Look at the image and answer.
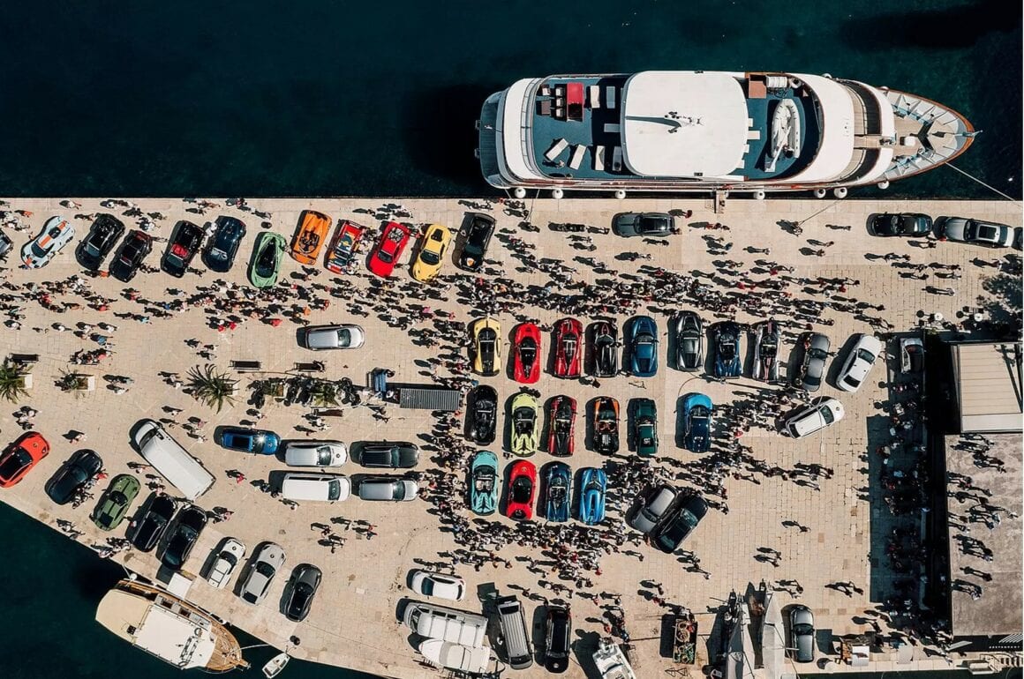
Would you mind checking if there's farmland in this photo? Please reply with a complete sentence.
No, there's no farmland in this view.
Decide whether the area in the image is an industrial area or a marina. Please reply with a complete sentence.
This image shows a marina.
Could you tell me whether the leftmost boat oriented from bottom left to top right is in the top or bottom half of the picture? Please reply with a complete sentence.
The bottom half of the photo is where the leftmost boat oriented from bottom left to top right is.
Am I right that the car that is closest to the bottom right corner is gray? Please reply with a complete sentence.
Yes, the car that is closest to the bottom right corner appears gray.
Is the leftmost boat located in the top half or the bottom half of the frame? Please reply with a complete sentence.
The leftmost boat is in the bottom half of the image.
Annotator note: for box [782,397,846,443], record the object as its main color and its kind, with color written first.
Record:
white car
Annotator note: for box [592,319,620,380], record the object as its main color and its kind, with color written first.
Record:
black car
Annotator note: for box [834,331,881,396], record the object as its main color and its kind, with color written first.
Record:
white car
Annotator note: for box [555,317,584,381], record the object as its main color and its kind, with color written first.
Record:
red car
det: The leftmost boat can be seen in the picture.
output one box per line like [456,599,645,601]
[95,576,249,672]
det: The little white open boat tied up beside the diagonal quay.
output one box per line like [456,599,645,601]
[258,655,288,679]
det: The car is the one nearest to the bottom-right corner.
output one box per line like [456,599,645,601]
[788,604,818,664]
